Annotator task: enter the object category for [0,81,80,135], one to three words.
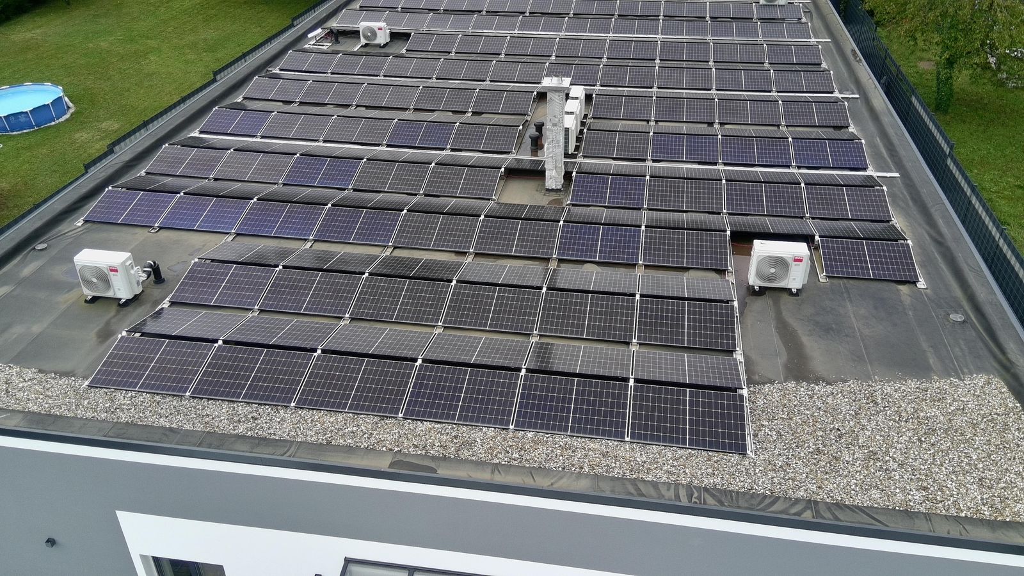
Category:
swimming pool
